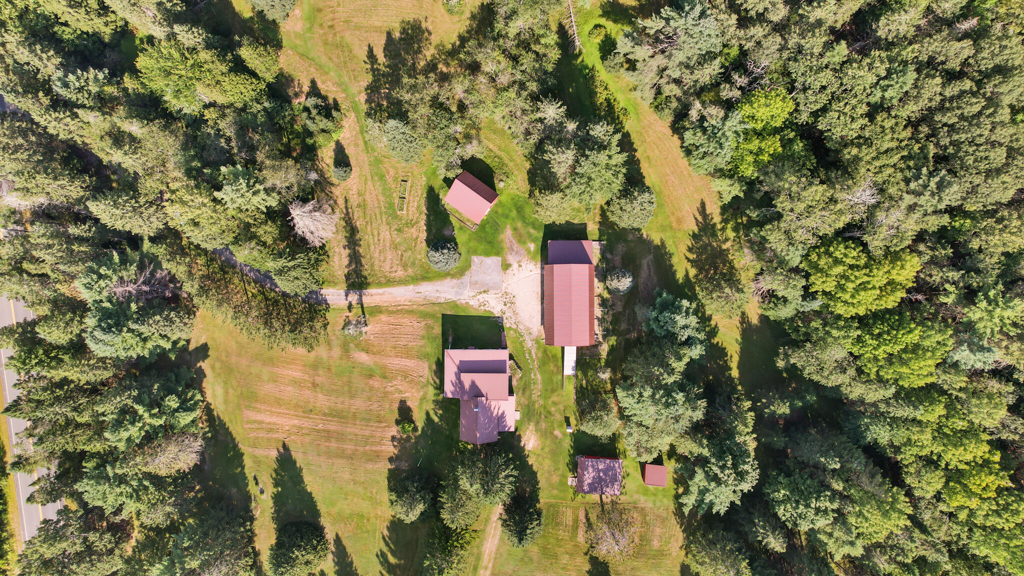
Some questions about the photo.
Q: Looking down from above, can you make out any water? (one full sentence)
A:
No, no water is visible.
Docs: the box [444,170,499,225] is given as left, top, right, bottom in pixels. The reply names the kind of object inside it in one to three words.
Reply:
building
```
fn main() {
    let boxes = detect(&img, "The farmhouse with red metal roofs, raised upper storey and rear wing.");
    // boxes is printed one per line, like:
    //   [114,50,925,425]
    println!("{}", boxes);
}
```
[440,346,520,445]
